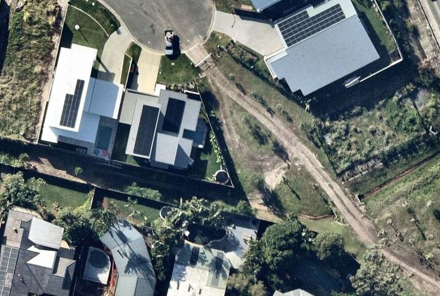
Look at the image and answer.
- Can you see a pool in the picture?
Yes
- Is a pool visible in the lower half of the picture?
Yes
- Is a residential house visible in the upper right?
Yes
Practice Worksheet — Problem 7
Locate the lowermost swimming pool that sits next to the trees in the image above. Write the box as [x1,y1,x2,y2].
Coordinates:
[184,224,228,247]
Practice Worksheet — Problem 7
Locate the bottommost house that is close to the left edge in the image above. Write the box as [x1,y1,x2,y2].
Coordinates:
[0,210,76,296]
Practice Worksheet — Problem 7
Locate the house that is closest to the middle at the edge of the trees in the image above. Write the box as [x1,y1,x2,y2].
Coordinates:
[120,90,201,168]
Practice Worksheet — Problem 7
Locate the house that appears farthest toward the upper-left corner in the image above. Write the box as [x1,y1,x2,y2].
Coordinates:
[42,44,123,143]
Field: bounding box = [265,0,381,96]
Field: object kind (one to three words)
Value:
house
